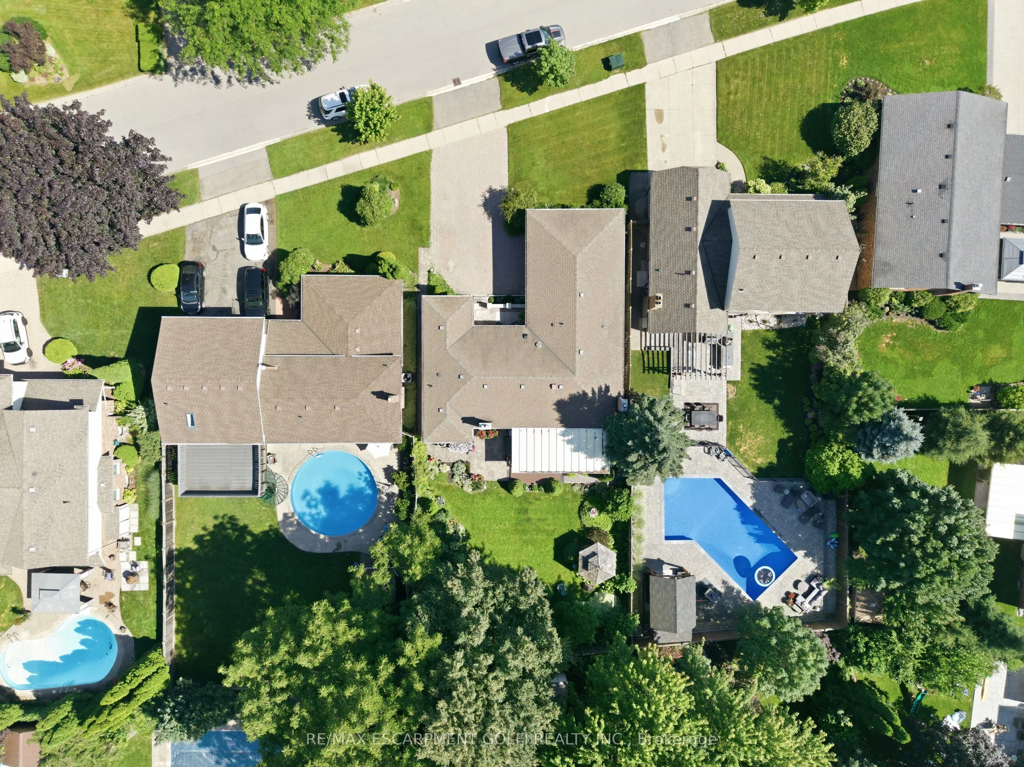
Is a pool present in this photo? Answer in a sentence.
Yes, there is a pool in the image.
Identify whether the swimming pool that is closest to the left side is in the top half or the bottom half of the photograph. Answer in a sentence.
The swimming pool that is closest to the left side sits in the bottom half of the picture.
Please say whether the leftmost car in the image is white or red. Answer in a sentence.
The color of the leftmost car is white.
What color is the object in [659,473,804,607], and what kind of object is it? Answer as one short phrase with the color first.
blue swimming pool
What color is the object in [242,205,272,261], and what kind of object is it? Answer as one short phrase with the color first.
white car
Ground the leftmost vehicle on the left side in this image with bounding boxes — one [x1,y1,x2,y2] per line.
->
[0,312,36,363]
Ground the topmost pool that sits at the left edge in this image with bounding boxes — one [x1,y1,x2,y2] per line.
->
[0,612,120,693]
